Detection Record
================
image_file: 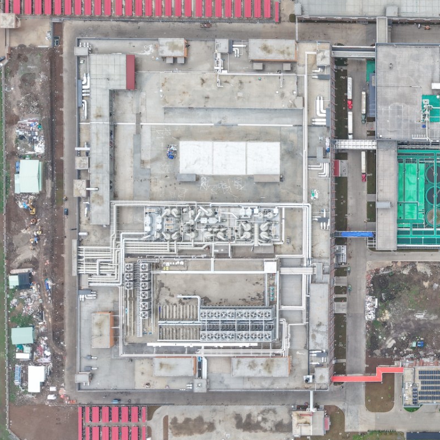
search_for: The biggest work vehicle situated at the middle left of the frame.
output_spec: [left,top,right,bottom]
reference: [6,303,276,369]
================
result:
[23,196,36,215]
